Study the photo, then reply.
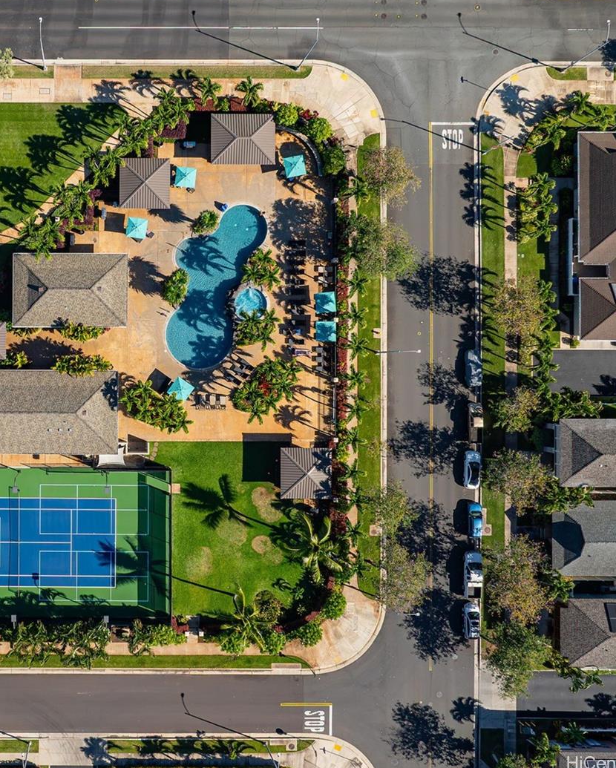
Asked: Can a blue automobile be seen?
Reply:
Yes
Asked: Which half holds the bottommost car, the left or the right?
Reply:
right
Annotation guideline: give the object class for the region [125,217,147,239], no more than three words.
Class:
umbrella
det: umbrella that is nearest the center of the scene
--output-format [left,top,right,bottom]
[313,320,335,342]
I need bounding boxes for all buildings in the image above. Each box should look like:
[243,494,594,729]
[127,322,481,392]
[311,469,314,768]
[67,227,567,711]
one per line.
[542,501,616,577]
[550,596,616,668]
[277,447,332,500]
[0,370,118,455]
[12,253,129,328]
[568,131,616,340]
[118,158,171,210]
[538,419,616,487]
[209,113,276,168]
[0,320,7,361]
